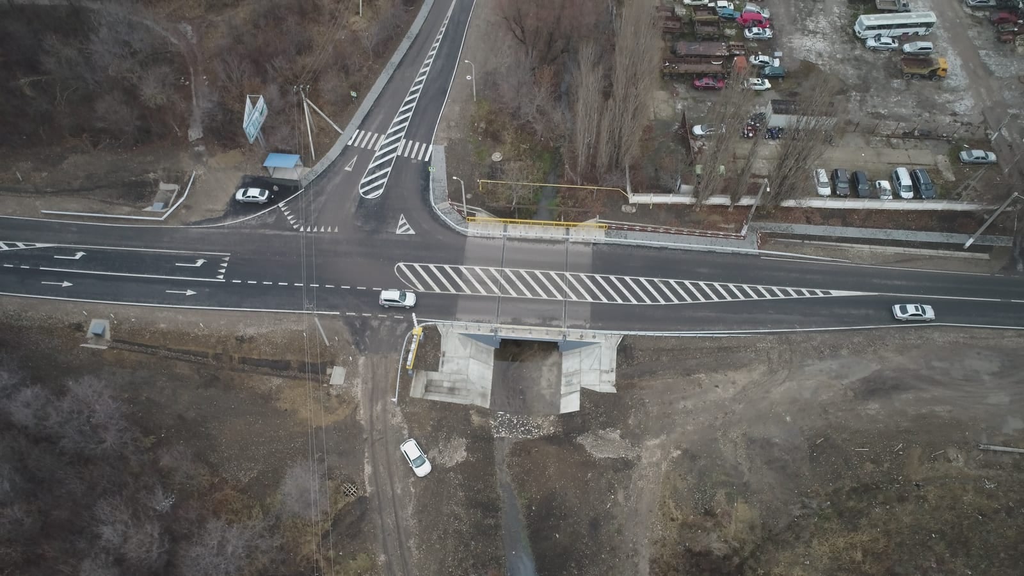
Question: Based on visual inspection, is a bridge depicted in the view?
Yes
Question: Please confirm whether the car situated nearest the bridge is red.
No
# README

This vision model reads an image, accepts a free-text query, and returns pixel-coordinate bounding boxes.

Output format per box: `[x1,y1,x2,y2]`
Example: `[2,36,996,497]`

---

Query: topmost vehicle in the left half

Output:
[235,186,273,205]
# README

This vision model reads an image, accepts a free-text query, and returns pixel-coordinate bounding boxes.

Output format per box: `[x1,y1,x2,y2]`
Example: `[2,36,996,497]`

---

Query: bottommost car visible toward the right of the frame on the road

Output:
[891,304,935,323]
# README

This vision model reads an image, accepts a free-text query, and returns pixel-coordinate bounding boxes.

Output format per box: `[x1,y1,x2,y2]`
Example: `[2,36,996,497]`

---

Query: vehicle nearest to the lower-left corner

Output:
[402,436,432,479]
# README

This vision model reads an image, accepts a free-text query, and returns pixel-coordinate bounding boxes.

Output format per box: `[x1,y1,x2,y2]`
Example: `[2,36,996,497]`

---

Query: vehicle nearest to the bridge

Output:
[378,289,417,309]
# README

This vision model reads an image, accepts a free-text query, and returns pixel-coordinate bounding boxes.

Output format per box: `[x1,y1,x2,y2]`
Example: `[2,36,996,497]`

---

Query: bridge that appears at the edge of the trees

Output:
[442,222,606,351]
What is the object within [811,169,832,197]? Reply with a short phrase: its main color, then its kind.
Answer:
white car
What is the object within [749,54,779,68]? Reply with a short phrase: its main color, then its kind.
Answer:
white car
